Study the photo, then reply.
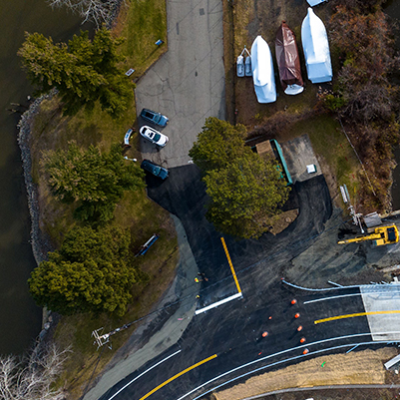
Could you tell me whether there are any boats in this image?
Yes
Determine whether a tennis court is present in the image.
No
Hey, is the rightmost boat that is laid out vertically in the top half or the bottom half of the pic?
top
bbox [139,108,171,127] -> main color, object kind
blue vehicle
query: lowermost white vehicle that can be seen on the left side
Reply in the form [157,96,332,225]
[139,124,171,146]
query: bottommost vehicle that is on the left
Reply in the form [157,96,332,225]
[140,159,172,181]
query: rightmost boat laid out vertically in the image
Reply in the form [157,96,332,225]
[301,6,335,85]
